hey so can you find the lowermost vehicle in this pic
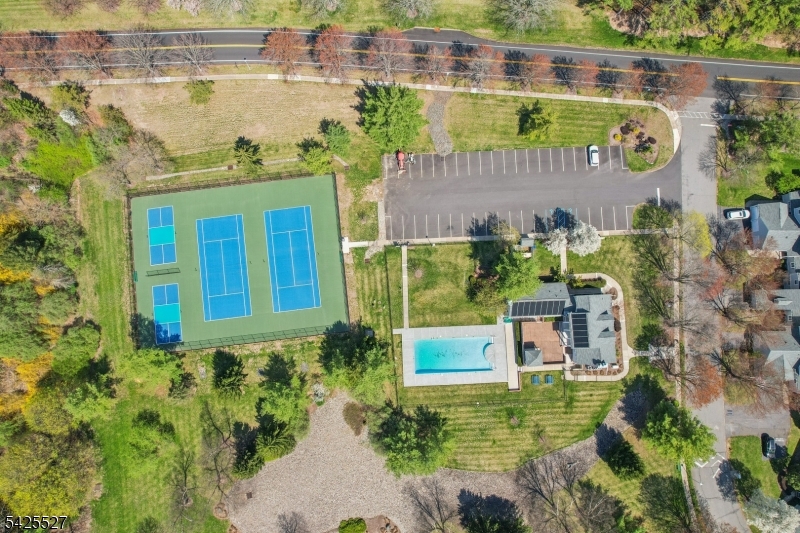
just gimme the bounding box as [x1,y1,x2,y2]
[762,436,777,458]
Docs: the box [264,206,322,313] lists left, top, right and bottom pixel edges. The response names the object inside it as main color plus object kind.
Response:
blue tennis court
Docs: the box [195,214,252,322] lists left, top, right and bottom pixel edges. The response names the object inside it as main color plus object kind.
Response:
blue tennis court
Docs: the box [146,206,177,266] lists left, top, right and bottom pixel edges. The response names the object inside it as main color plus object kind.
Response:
blue sports court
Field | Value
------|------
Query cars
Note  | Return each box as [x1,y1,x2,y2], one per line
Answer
[588,145,598,166]
[723,209,746,220]
[762,436,777,458]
